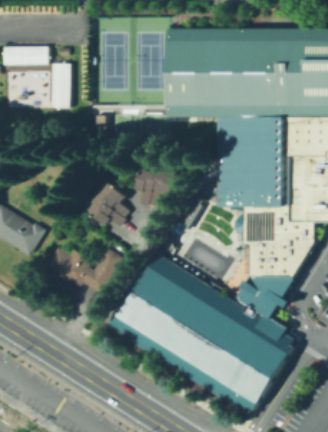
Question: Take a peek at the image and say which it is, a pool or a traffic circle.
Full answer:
Visible in the photo is a pool.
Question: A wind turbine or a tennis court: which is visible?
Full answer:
This aerial view contains a tennis court.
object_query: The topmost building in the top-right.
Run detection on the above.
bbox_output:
[163,29,328,116]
